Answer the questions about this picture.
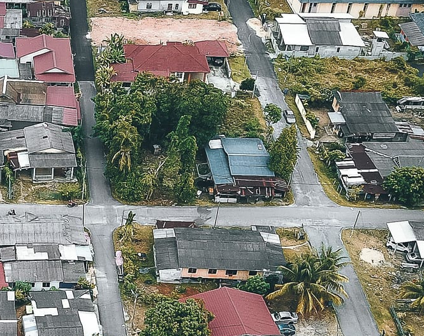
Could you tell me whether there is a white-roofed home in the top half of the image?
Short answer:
Yes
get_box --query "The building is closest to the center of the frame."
[204,138,288,206]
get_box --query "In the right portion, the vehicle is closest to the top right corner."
[394,95,424,112]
